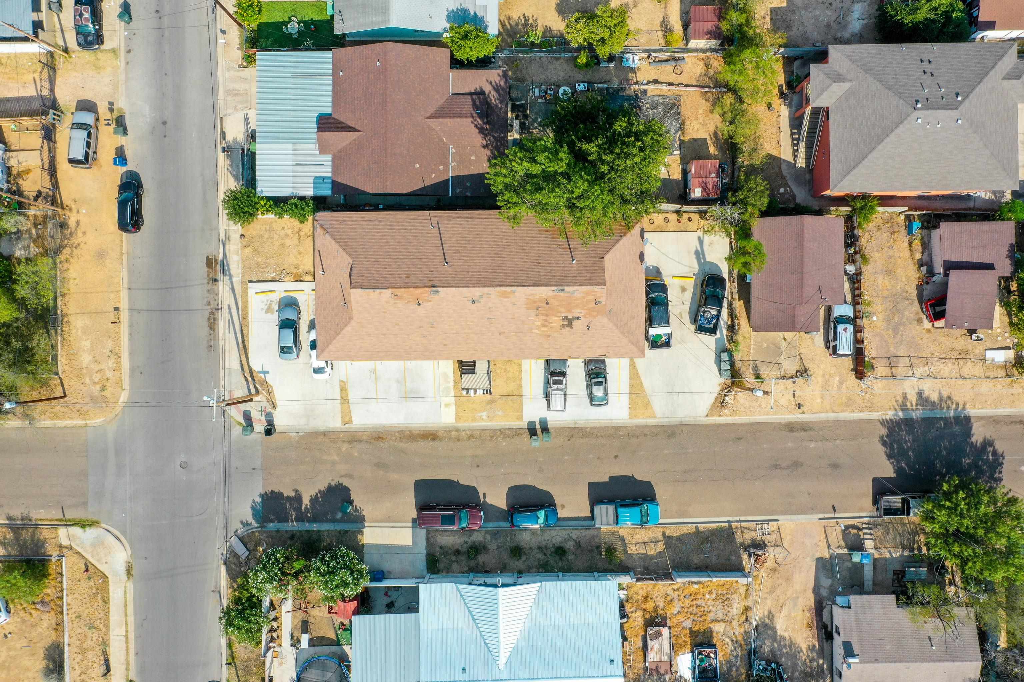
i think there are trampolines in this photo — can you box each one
[295,660,350,682]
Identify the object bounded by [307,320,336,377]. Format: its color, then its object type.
white car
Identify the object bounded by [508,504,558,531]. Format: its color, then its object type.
blue car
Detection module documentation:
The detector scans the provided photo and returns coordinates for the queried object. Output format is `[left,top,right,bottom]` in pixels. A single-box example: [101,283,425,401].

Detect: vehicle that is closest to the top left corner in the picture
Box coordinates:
[73,0,105,45]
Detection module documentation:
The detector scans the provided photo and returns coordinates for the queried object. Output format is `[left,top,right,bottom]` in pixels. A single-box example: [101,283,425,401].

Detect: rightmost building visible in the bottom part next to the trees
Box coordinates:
[825,595,982,682]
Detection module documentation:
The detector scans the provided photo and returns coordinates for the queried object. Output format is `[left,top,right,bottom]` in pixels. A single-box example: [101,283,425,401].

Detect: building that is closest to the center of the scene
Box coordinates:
[314,211,669,361]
